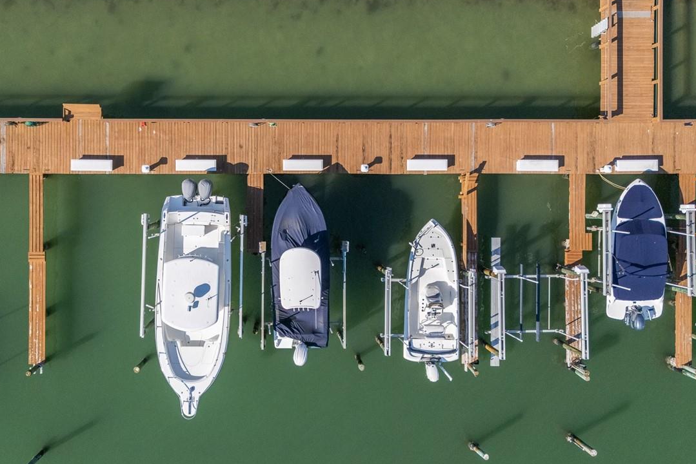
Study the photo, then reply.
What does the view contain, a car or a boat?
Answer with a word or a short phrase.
boat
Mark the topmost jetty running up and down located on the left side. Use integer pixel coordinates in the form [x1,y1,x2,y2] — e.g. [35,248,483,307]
[248,174,265,253]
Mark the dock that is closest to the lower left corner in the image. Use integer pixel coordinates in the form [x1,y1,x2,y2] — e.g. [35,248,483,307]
[28,174,53,365]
